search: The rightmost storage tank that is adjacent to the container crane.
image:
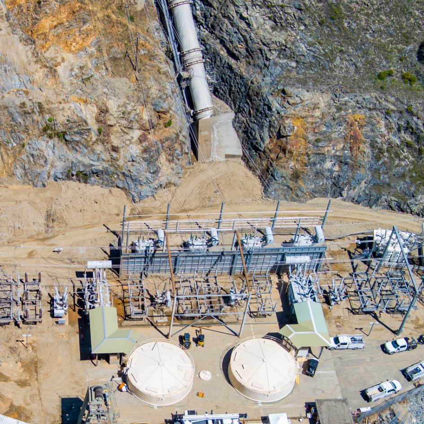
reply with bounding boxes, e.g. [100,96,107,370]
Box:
[124,339,195,409]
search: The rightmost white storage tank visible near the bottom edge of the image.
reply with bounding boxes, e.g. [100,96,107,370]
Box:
[226,335,300,405]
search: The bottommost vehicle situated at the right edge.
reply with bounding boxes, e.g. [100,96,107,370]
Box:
[364,380,404,402]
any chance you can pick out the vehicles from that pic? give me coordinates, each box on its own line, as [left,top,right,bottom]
[403,360,424,380]
[196,330,205,349]
[172,407,249,424]
[329,333,368,350]
[383,338,420,356]
[307,357,319,376]
[181,335,192,350]
[364,380,404,402]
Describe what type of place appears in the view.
industrial area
